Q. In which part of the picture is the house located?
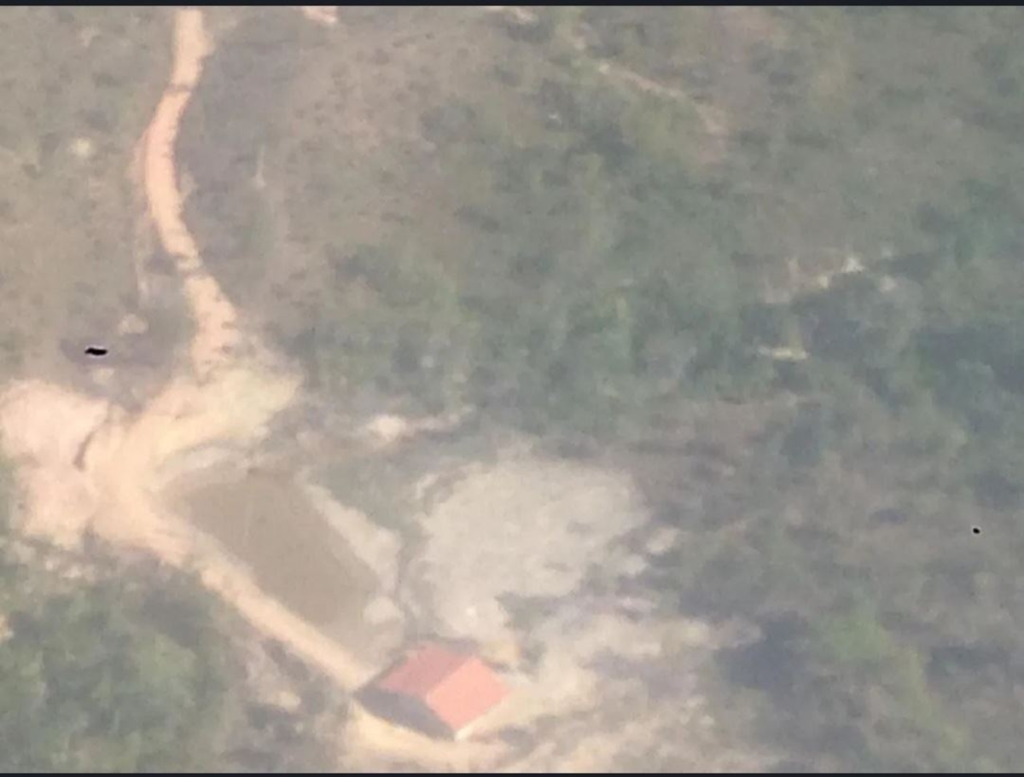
bottom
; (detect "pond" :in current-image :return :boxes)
[170,458,385,651]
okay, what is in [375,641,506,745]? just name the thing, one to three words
house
